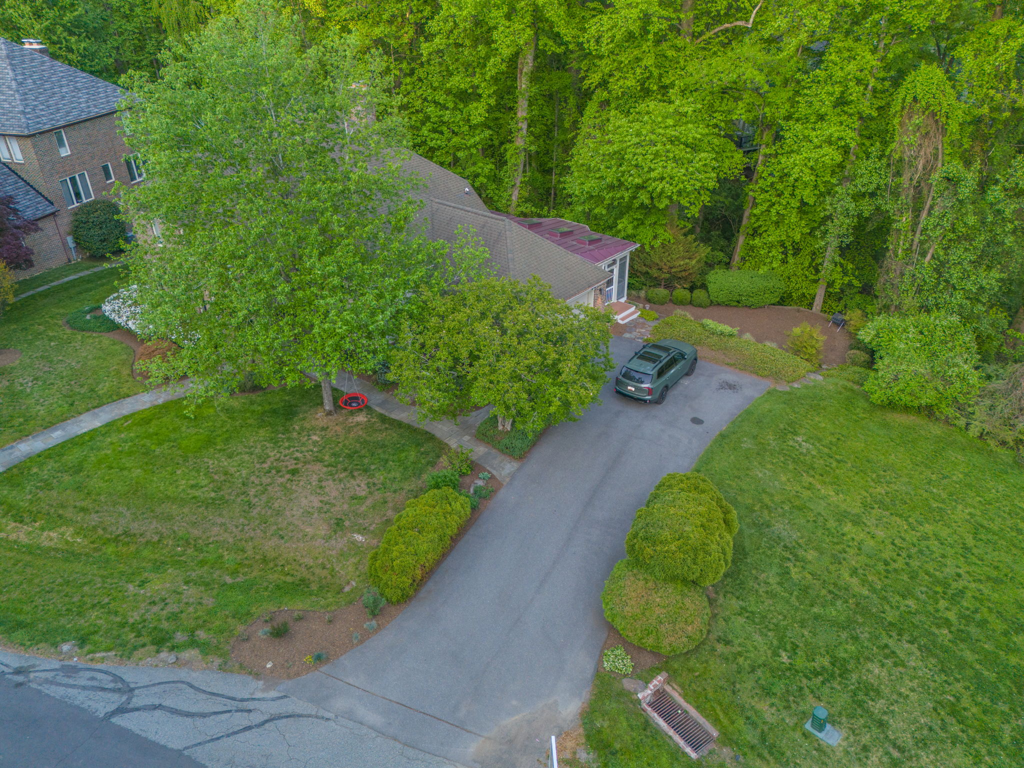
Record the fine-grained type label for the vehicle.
car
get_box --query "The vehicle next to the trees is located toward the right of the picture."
[614,339,701,406]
